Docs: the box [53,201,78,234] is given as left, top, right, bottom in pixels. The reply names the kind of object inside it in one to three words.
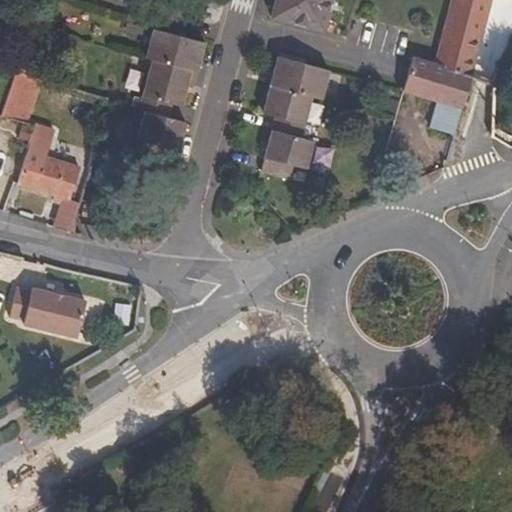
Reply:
building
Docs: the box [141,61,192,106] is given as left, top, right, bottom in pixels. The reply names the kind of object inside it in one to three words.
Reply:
house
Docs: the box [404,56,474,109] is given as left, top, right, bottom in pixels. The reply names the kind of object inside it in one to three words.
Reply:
building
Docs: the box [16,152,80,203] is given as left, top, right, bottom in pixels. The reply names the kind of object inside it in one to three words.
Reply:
house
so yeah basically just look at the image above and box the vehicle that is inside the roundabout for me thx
[338,245,354,268]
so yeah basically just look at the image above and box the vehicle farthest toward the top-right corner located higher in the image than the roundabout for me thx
[397,33,409,54]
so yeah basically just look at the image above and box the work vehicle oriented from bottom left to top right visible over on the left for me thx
[8,468,34,488]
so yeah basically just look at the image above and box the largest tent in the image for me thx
[314,146,335,168]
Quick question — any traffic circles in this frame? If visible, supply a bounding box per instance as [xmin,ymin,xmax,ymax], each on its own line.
[312,214,484,386]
